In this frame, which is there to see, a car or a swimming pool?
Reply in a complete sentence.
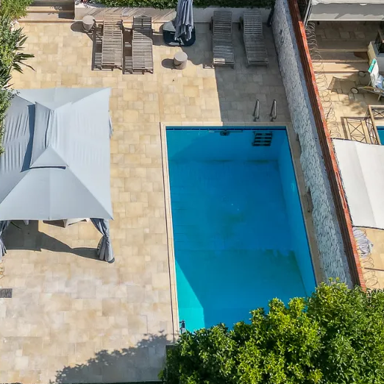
Looking from above, you can make out a swimming pool.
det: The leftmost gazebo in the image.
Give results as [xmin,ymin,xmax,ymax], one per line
[0,87,120,267]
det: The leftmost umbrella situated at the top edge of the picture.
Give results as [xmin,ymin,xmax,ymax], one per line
[163,0,194,45]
